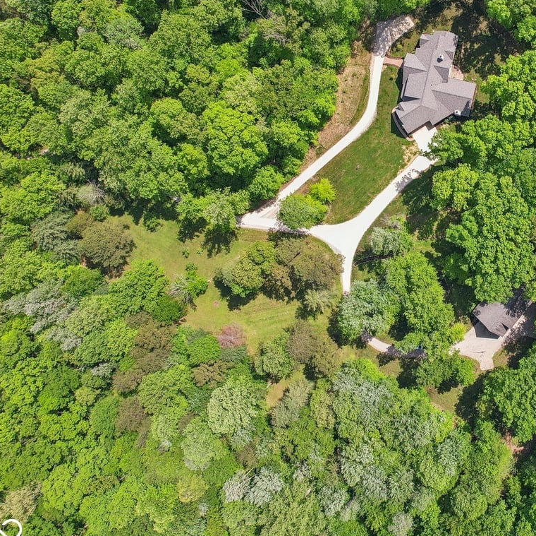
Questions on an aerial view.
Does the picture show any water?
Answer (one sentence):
No, the scene doesn't show any water.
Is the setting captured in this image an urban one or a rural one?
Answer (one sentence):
This place is rural.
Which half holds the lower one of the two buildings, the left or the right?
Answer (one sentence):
The lower one of the two buildings appears in the right half of the scene.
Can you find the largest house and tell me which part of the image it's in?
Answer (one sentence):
The largest house appears toward the top right of the photo.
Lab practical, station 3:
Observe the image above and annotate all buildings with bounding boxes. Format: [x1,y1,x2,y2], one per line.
[393,28,478,135]
[475,287,527,337]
